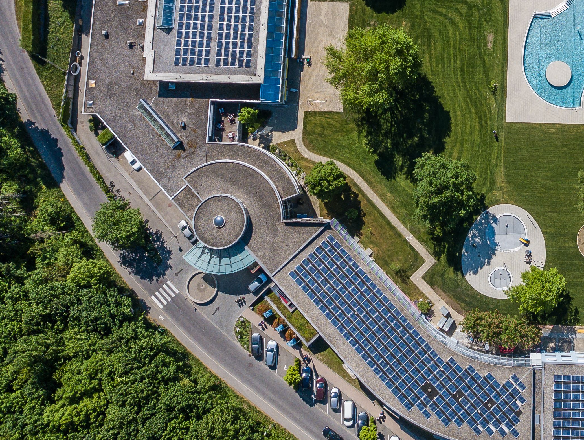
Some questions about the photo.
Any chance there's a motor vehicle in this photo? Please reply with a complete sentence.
Yes, you can see a motor vehicle in this photo.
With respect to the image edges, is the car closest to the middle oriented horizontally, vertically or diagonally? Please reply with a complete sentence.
Seen from above, the car closest to the middle lies diagonally.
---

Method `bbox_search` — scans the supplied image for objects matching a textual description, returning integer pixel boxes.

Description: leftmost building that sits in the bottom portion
[252,217,532,440]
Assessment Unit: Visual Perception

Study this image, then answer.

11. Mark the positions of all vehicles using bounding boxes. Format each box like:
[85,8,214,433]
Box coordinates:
[122,150,143,172]
[177,219,196,243]
[251,333,262,358]
[246,272,269,293]
[329,387,341,410]
[321,425,344,440]
[390,435,400,440]
[316,376,326,400]
[301,366,312,388]
[357,411,367,432]
[265,340,277,366]
[342,399,354,427]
